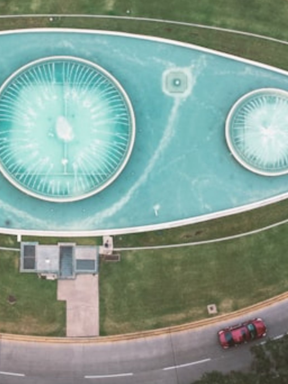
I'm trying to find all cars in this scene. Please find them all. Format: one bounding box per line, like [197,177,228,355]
[218,320,266,348]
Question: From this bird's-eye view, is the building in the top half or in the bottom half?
bottom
